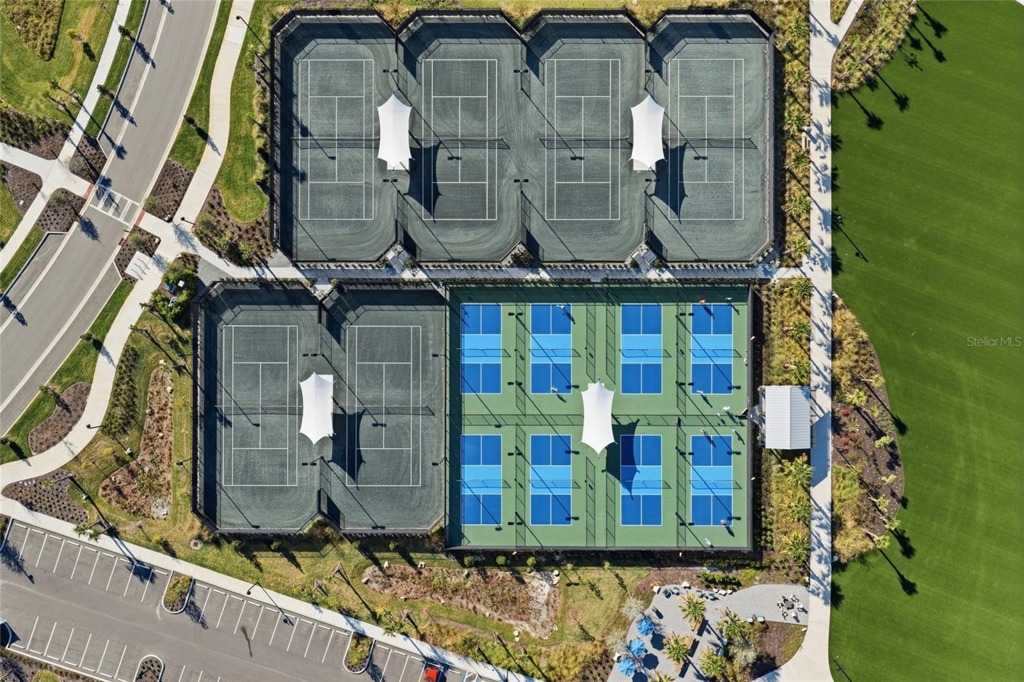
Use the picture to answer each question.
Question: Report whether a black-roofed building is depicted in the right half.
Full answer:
No, in the right half there is no black-roofed building.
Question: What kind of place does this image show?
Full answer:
It's a sports ground.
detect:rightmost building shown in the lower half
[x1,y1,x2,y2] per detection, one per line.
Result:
[763,386,810,451]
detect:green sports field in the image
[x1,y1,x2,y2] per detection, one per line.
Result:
[831,0,1024,682]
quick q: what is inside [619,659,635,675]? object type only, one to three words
umbrella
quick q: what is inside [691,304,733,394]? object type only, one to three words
sports court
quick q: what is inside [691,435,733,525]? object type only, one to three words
sports court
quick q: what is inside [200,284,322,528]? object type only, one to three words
tennis court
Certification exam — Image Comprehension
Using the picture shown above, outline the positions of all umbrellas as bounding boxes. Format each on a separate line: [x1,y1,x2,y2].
[629,639,645,654]
[619,659,635,675]
[637,619,654,635]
